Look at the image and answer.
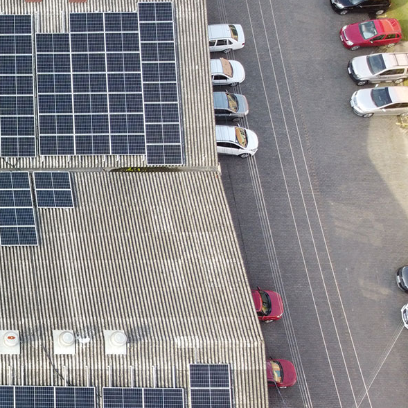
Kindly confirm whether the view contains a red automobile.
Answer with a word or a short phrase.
Yes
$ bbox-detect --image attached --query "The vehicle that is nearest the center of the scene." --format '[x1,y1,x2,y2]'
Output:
[215,123,259,158]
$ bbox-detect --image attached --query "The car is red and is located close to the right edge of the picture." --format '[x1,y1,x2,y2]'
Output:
[335,14,408,50]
